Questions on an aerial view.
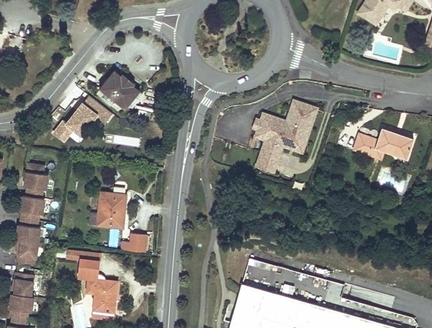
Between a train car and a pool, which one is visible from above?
pool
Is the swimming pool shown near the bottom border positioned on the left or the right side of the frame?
left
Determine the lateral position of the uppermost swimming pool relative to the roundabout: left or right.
right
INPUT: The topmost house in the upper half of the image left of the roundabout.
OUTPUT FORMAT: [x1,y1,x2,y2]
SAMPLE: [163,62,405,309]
[99,70,140,110]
